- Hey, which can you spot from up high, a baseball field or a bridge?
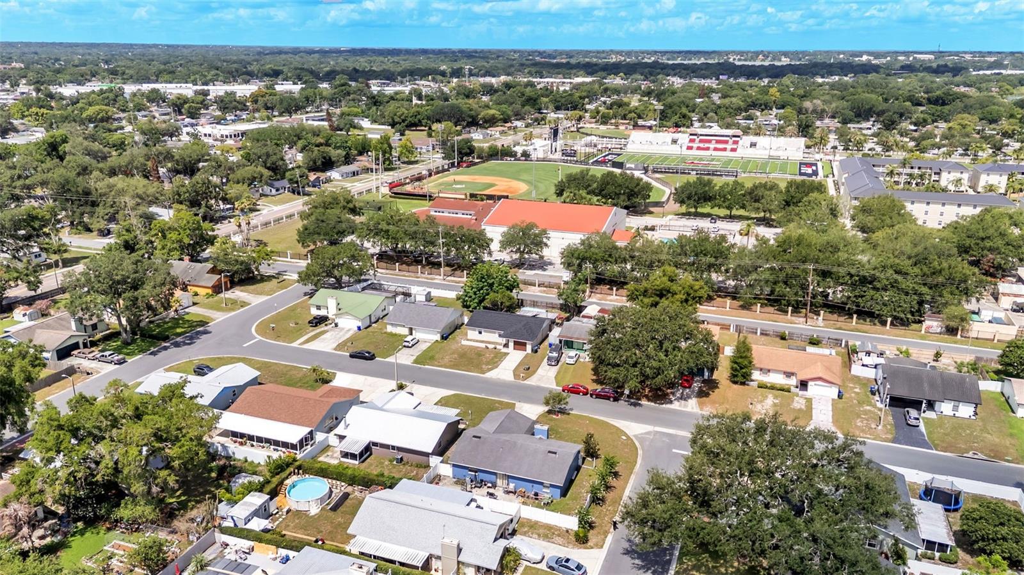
baseball field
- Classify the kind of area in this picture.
residential area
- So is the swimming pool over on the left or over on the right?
left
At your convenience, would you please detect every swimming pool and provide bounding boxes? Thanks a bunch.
[285,476,332,511]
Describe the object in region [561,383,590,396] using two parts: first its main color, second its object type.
red vehicle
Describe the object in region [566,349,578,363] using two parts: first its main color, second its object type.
white vehicle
